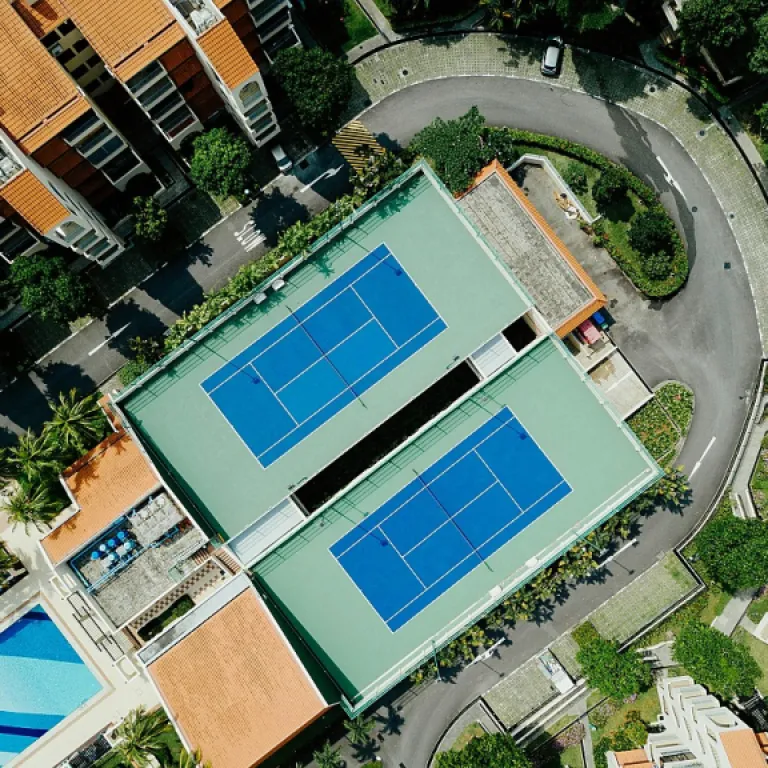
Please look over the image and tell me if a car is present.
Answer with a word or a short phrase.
Yes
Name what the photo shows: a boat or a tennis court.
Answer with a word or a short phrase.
tennis court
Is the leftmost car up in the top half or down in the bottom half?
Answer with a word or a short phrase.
top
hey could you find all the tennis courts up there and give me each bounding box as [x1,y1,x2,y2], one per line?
[116,165,534,545]
[251,335,662,708]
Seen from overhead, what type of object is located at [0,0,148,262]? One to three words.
building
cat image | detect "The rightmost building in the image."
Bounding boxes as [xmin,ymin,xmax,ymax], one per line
[632,674,768,768]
